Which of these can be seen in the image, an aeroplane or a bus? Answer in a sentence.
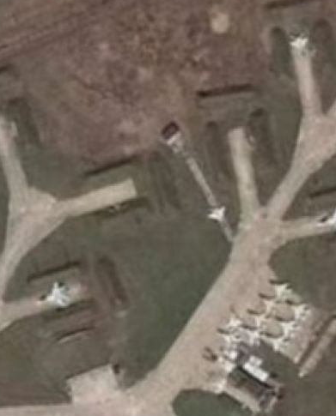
The one in the frame is an aeroplane.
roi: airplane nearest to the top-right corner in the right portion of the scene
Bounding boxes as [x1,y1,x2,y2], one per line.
[290,31,307,58]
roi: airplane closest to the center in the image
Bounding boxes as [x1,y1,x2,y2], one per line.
[207,202,224,227]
